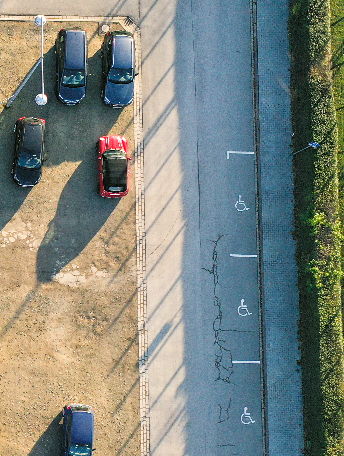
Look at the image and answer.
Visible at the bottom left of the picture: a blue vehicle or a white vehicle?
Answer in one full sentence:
The feature located at the bottom left of the picture is a blue vehicle.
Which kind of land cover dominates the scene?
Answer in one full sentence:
For the most part, this view shows paved ground.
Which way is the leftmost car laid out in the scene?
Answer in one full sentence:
In this picture, the leftmost car is oriented up and down.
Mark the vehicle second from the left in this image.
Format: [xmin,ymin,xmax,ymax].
[62,401,96,456]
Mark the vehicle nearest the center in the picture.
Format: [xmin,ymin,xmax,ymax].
[96,134,134,200]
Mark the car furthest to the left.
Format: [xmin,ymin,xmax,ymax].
[10,115,48,188]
